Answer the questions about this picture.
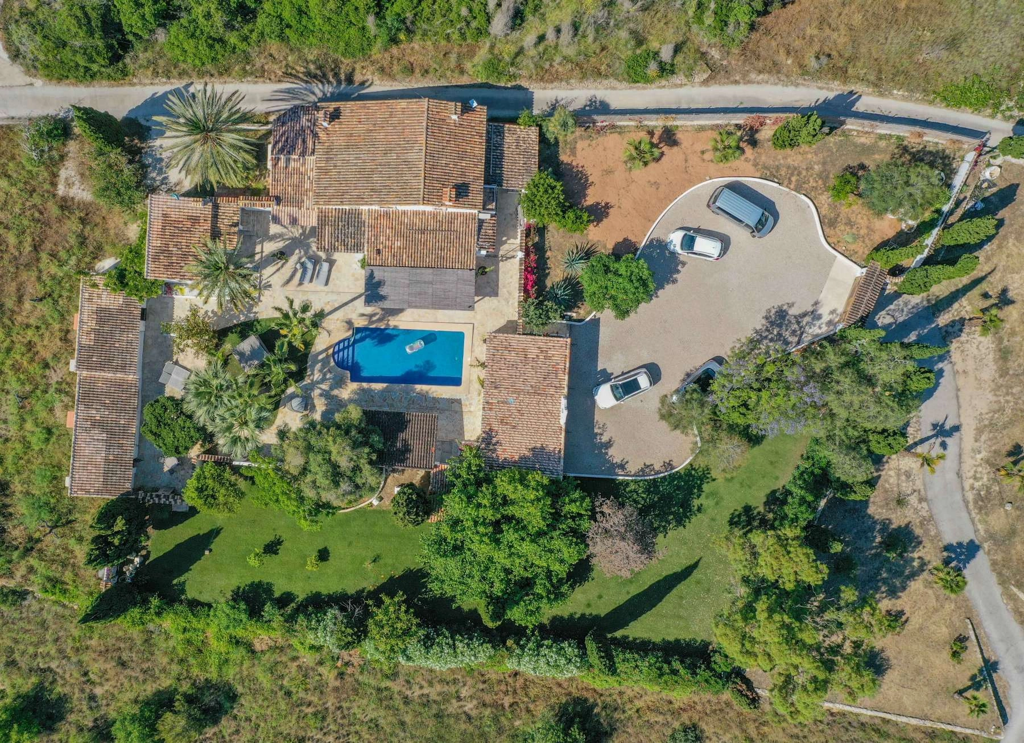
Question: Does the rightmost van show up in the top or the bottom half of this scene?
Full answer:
The rightmost van is in the top half of the image.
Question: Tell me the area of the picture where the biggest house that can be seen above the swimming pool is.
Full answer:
The biggest house that can be seen above the swimming pool sits in the top section of the image.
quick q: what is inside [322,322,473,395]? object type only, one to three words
swimming pool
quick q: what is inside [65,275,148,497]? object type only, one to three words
shed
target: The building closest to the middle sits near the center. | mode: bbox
[476,334,571,478]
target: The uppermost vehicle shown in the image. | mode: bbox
[705,186,773,240]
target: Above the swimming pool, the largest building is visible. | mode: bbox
[270,96,539,270]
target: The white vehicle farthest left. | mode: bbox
[592,367,653,409]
